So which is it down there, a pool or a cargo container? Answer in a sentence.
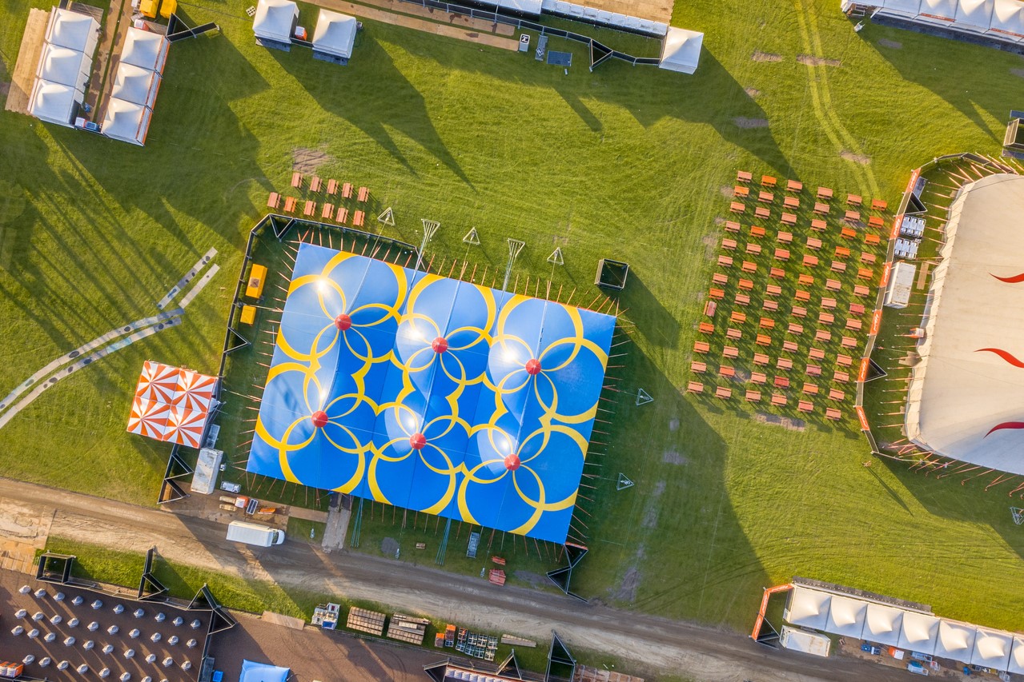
Visible in the photo is a cargo container.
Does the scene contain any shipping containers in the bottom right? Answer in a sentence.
Yes, looking in the bottom right, one can make out a shipping container.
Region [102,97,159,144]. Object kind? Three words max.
tent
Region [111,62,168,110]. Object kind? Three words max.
tent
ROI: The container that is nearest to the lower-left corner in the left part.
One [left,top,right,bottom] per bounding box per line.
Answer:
[191,446,225,494]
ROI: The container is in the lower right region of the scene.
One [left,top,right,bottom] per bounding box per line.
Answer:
[779,624,830,657]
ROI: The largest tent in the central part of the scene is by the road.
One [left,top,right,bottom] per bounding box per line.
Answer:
[237,228,626,557]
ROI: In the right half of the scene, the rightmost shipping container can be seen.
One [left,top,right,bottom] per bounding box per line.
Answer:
[884,262,916,306]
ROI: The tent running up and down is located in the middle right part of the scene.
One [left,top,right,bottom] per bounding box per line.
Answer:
[877,151,1024,499]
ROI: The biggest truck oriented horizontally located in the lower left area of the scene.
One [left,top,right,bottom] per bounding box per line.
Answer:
[227,520,296,547]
